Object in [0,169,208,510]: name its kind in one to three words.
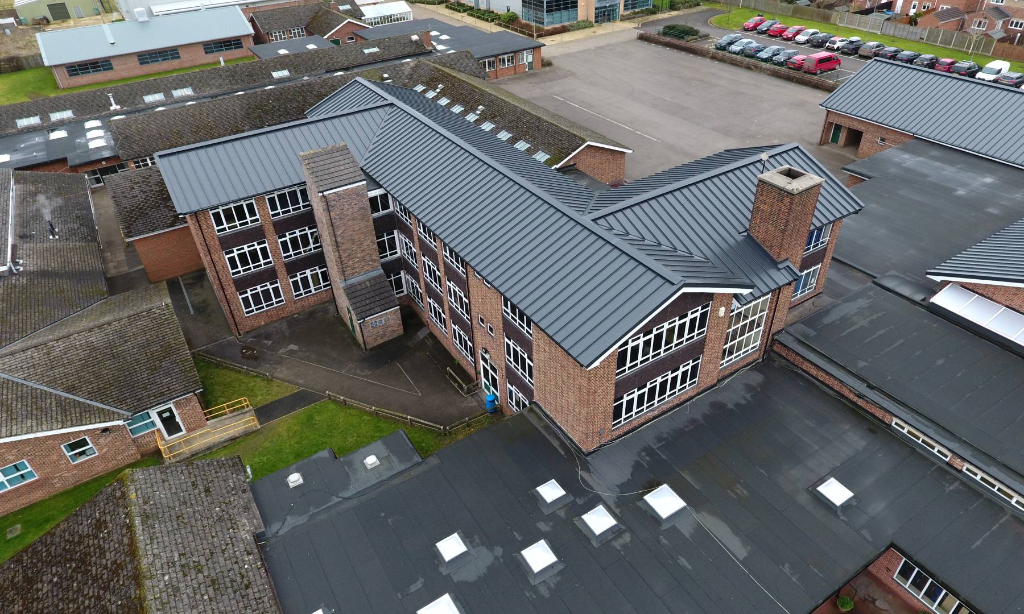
building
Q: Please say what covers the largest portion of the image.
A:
buildings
